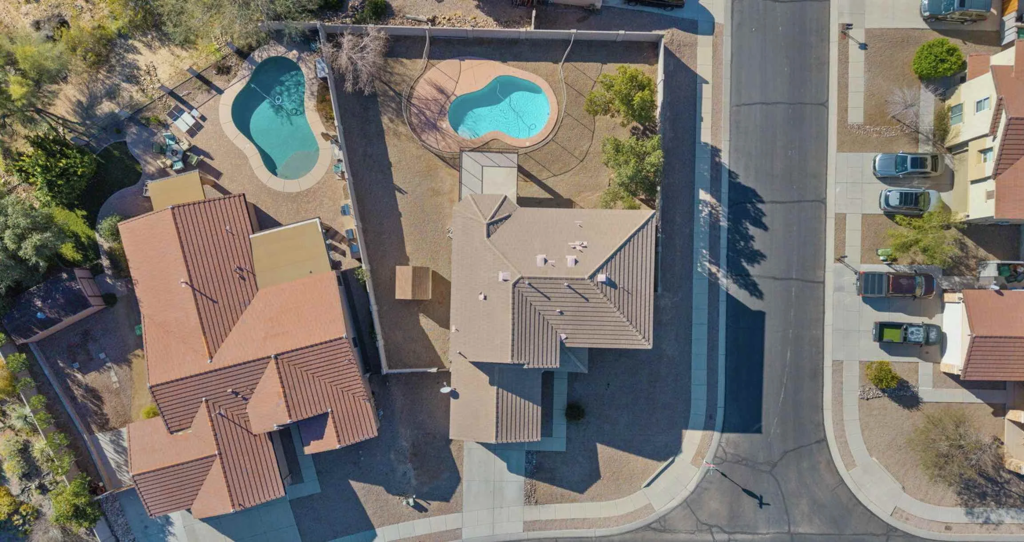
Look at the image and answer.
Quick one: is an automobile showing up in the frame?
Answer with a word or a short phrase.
Yes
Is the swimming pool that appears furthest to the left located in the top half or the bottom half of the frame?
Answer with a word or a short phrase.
top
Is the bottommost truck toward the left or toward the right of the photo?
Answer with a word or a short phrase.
right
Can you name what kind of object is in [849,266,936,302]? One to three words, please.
truck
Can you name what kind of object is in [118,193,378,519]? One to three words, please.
house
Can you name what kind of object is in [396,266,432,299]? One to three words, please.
shed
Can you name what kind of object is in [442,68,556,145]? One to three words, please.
swimming pool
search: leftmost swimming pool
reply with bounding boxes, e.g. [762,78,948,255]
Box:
[220,45,331,191]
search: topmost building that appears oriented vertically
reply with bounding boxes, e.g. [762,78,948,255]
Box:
[944,39,1024,222]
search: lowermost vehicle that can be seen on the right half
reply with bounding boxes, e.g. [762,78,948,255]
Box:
[865,317,942,349]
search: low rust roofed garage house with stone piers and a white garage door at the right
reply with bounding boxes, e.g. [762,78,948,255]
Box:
[940,290,1024,381]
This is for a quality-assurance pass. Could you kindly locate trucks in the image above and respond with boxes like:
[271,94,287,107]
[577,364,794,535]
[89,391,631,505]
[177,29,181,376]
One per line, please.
[849,266,936,302]
[865,317,942,349]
